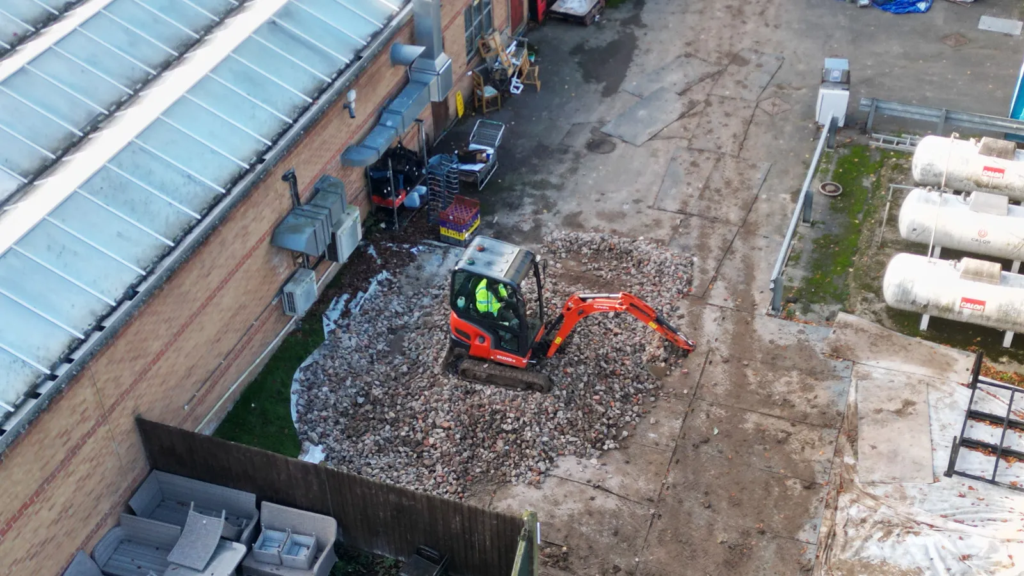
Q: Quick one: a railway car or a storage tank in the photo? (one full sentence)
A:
The image shows a storage tank.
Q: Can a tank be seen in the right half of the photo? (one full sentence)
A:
Yes, a tank shows up in the right half of the photo.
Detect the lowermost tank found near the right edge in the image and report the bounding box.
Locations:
[884,251,1024,358]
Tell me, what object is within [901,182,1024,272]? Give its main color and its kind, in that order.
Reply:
white storage tank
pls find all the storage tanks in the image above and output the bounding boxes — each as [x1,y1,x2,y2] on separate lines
[884,251,1024,358]
[916,123,1024,199]
[901,182,1024,272]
